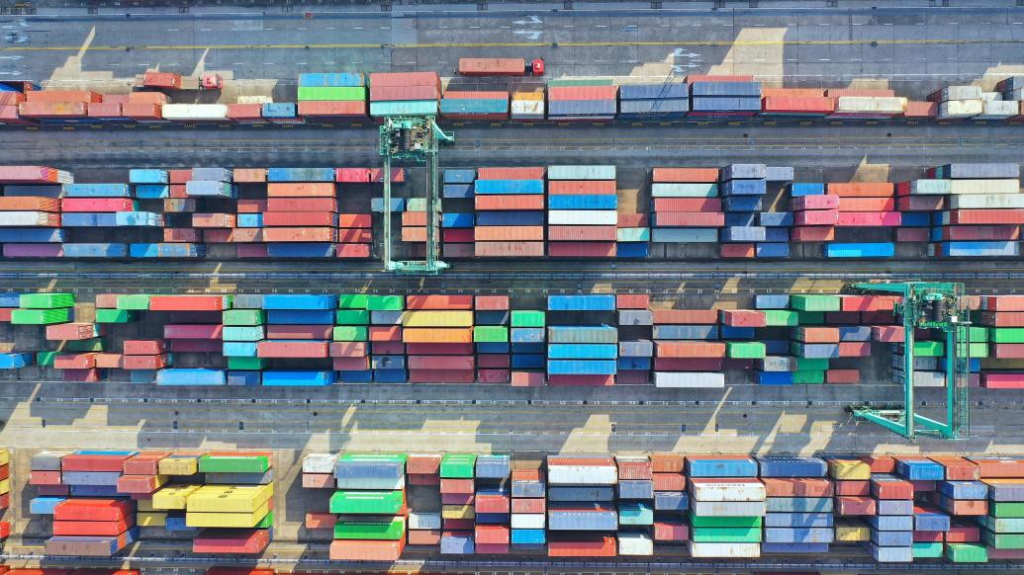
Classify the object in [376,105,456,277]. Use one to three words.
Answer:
container crane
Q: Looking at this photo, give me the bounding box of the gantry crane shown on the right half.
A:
[836,277,974,443]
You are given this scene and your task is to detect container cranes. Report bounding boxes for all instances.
[836,277,974,443]
[376,105,456,277]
